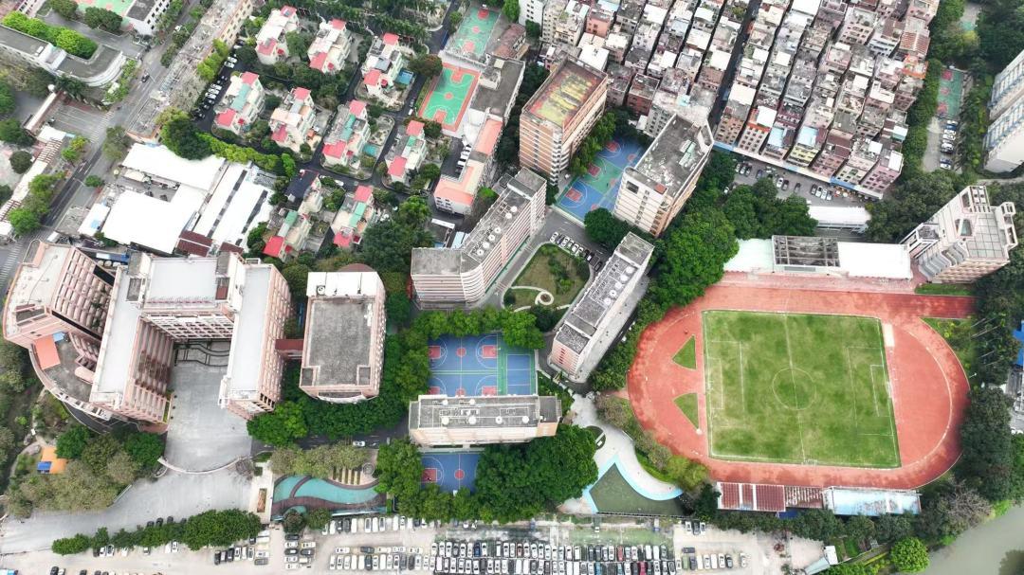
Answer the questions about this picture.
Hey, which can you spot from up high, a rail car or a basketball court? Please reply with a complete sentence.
Looking from above, you can make out a basketball court.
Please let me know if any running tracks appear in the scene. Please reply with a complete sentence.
Yes, a running track can be made out from above.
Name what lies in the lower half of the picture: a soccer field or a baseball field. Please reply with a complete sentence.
It is a soccer field that can be seen in the lower half of the picture.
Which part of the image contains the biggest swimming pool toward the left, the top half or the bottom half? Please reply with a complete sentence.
It is in the bottom half that the biggest swimming pool toward the left appears.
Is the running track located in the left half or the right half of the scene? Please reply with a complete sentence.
The running track sits on the right side.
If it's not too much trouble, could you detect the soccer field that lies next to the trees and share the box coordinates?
[704,310,900,469]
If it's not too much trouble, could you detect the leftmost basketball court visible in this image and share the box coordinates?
[77,0,133,26]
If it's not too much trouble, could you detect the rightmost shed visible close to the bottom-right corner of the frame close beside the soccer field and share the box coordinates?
[823,486,919,515]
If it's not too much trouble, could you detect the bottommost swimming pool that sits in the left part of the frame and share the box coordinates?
[272,473,388,518]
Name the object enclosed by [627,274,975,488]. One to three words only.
running track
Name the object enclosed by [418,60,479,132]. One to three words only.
basketball court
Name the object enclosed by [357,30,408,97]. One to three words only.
house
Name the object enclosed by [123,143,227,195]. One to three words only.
building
